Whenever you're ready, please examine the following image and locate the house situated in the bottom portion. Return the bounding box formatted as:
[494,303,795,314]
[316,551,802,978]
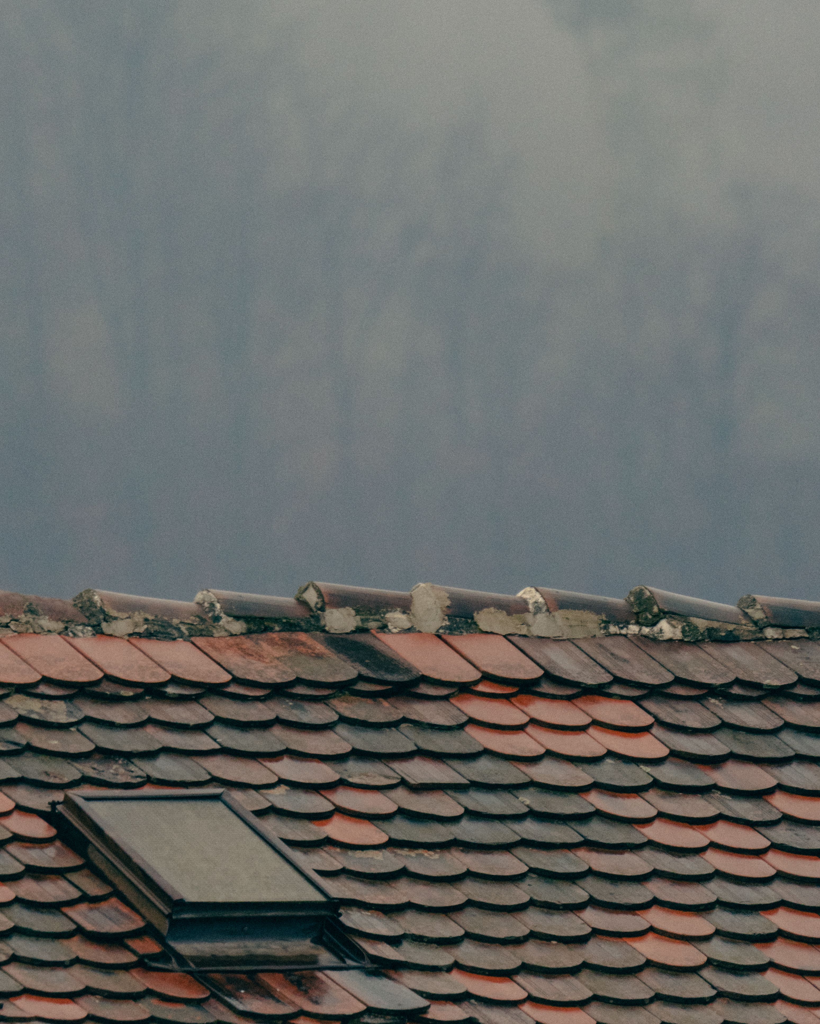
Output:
[0,582,820,1024]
